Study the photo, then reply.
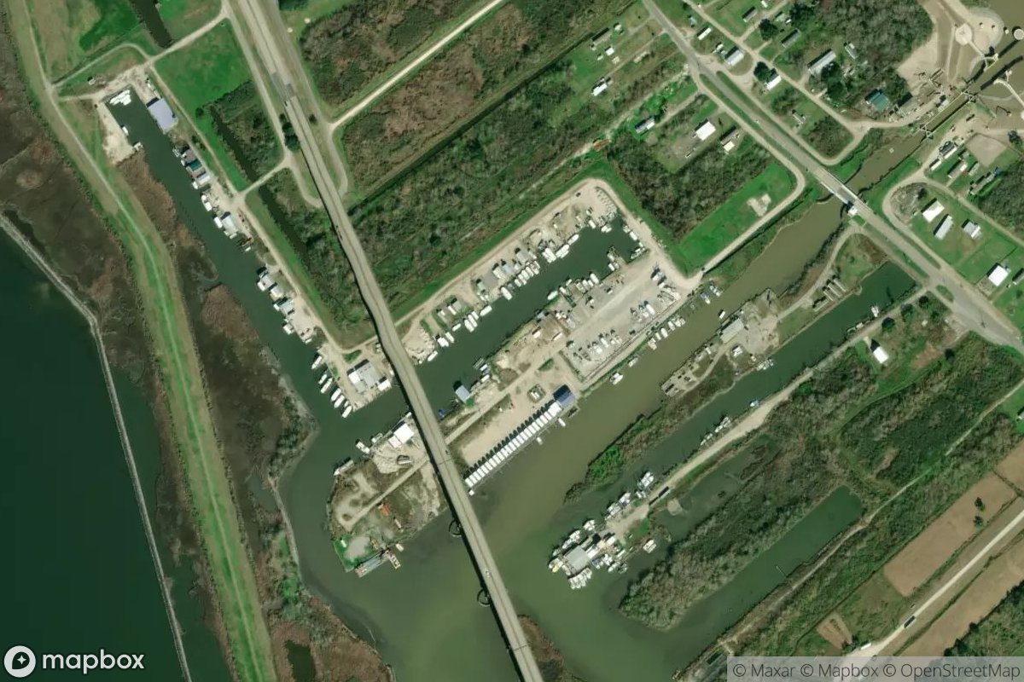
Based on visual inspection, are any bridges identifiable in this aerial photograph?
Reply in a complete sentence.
Yes, you can see a bridge in this photo.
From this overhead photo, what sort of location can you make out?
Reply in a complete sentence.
What you see here is a port.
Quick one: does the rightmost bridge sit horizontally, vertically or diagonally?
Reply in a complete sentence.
I'd say the rightmost bridge is aligned diagonally in the picture.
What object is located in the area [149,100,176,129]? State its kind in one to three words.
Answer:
building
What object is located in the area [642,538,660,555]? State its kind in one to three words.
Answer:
boat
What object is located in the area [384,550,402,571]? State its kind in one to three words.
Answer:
ship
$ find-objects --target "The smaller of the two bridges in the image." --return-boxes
[817,168,869,208]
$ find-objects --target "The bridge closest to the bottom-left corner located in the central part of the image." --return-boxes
[274,77,543,682]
